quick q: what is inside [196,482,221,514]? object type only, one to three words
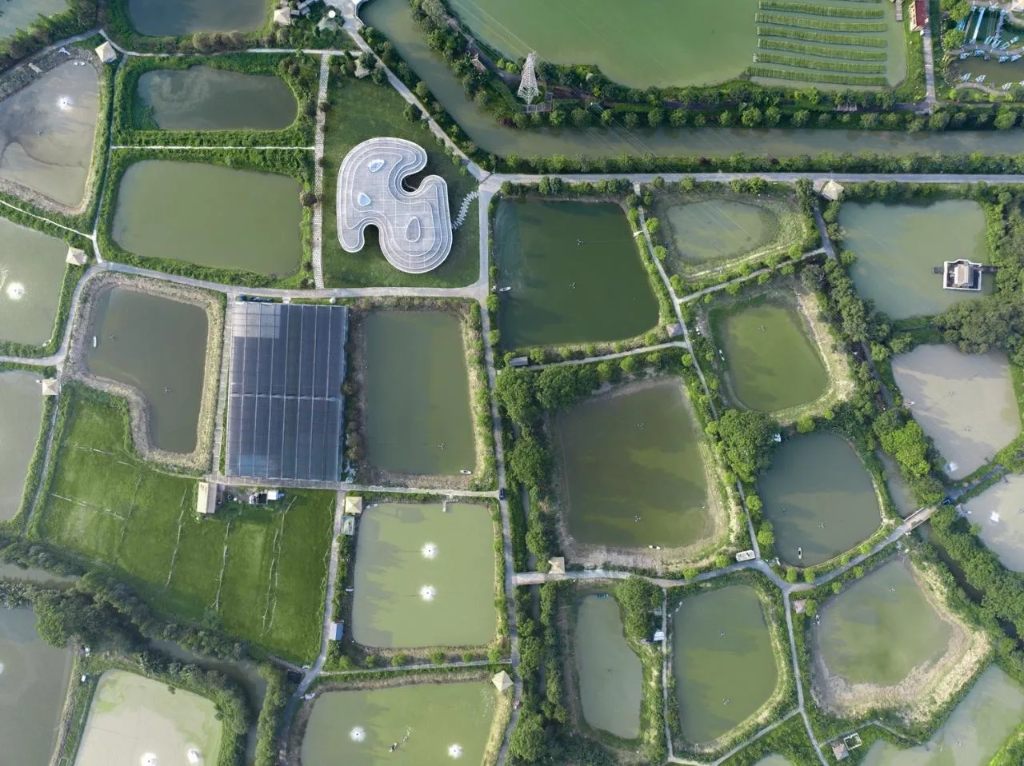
house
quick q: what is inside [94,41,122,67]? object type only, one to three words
building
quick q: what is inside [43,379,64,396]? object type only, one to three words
building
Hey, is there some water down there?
Yes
